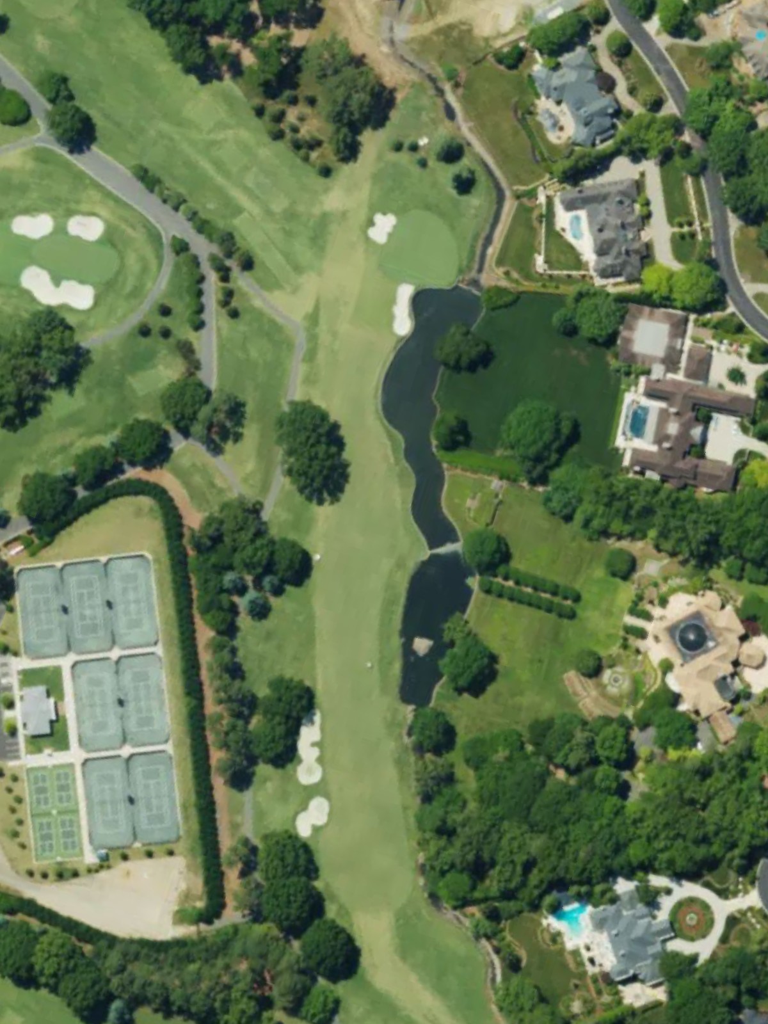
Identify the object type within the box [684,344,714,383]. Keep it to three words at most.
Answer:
house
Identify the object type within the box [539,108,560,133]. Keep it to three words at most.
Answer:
swimming pool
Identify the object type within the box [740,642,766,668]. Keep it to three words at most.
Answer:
gazebo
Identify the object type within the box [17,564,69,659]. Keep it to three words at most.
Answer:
tennis court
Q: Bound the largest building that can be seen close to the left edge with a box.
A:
[20,685,56,736]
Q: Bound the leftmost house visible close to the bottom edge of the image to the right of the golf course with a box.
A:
[589,889,679,990]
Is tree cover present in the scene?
Yes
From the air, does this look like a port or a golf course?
golf course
